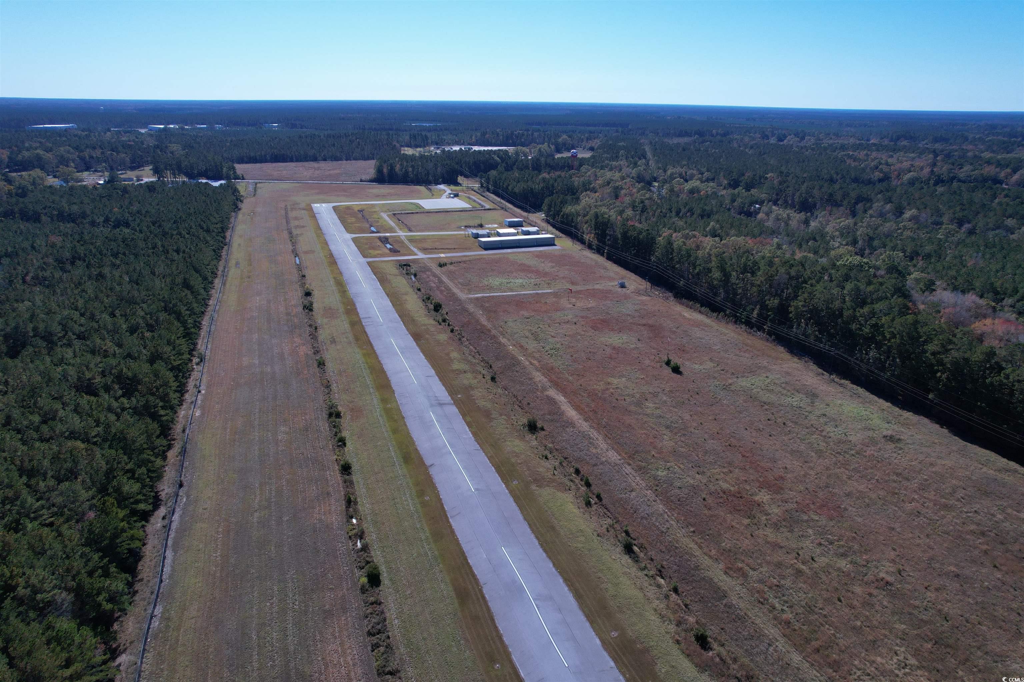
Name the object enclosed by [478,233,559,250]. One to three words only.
hangar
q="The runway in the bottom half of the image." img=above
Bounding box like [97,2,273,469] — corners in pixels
[312,204,628,682]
